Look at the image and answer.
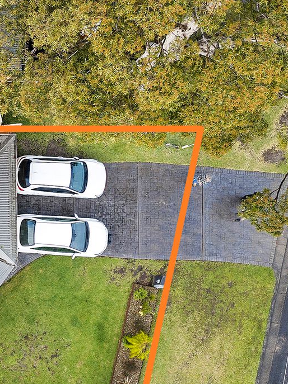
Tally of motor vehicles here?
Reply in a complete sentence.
The count of motor vehicles comes to 2.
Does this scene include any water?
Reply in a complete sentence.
No, no water is visible.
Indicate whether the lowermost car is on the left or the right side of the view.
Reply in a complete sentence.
The lowermost car sits on the left side.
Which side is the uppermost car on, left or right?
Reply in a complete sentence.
The uppermost car is on the left side of the image.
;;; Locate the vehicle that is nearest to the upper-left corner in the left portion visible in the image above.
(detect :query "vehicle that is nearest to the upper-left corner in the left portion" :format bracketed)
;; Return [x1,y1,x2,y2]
[19,155,103,199]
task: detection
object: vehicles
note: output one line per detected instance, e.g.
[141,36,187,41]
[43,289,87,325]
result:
[19,214,105,258]
[19,155,103,199]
